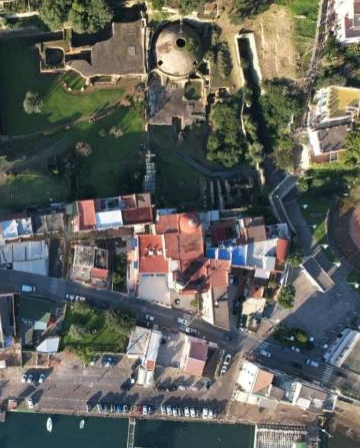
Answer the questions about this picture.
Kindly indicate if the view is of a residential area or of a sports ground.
residential area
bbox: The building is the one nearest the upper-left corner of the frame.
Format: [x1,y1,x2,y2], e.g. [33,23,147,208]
[68,19,144,79]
